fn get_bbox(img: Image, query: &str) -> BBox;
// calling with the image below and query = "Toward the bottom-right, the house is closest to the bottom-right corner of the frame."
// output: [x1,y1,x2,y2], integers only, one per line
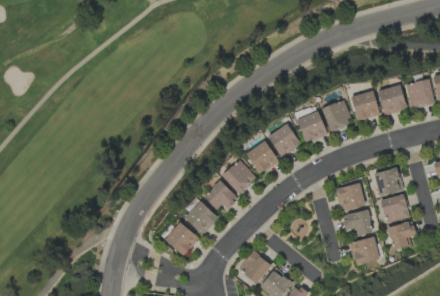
[388,222,416,250]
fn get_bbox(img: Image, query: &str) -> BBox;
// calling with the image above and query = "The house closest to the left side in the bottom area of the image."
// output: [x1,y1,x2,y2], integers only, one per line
[166,222,198,256]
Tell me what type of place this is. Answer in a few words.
golf course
